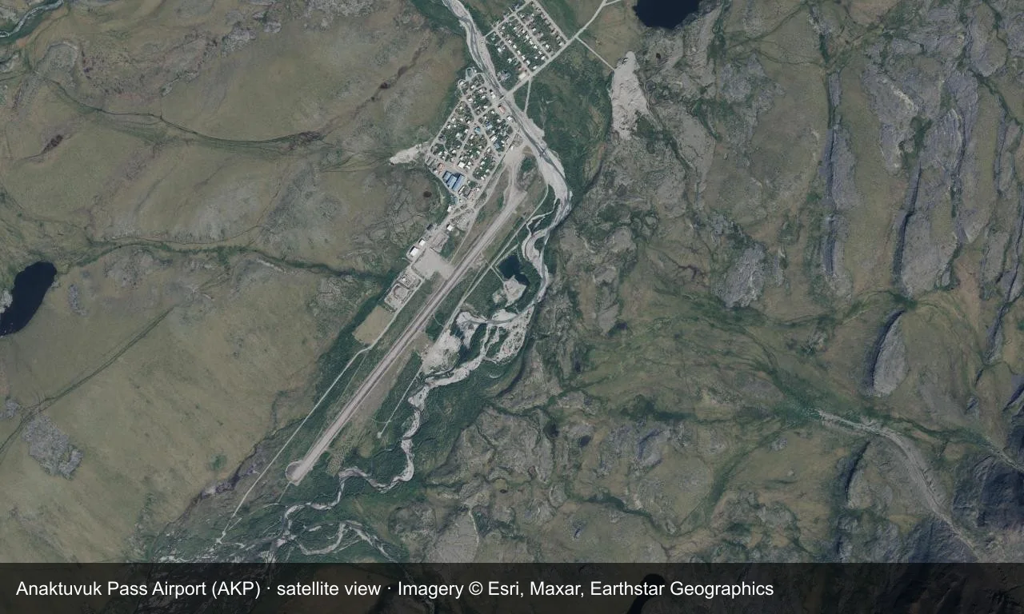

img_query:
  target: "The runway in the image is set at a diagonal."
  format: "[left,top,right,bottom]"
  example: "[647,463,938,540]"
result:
[296,187,525,477]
